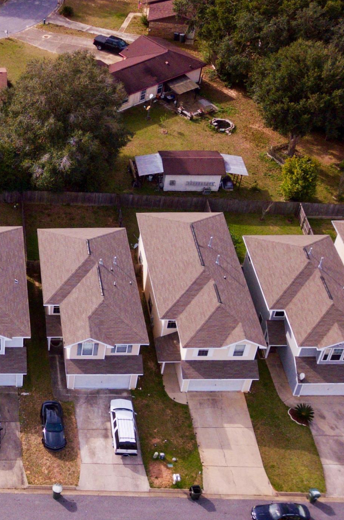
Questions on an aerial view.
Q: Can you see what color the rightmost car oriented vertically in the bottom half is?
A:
white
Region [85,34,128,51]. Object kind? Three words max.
vehicle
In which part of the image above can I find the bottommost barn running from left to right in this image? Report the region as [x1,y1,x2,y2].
[133,150,248,190]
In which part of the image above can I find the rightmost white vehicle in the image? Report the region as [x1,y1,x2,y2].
[111,400,141,454]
